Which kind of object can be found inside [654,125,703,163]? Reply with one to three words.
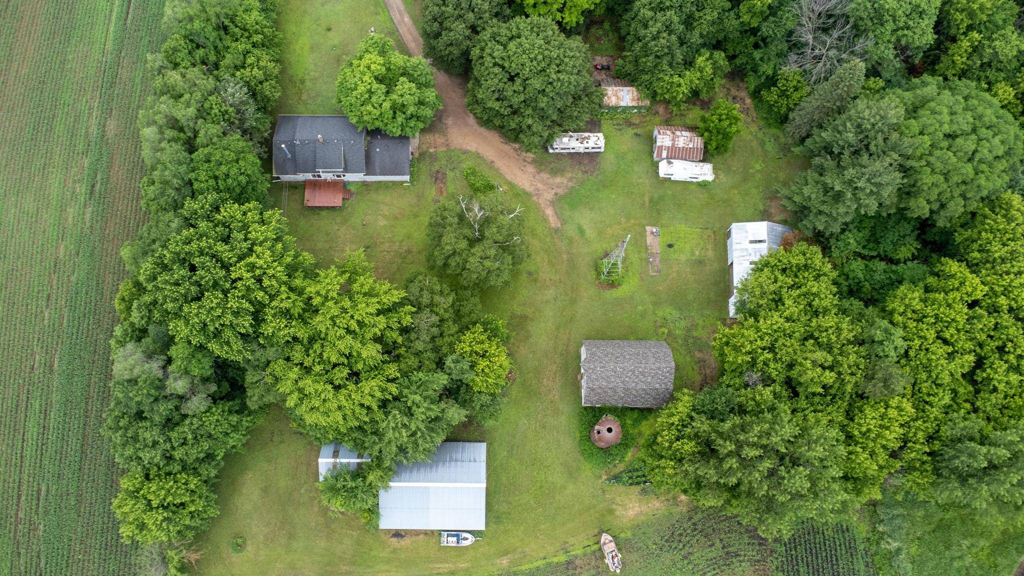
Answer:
shed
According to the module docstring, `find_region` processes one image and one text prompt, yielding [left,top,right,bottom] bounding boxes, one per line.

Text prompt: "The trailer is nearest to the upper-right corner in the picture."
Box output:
[656,162,713,186]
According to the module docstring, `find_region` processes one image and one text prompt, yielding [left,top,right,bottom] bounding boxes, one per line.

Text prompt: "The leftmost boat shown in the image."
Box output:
[441,531,474,546]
